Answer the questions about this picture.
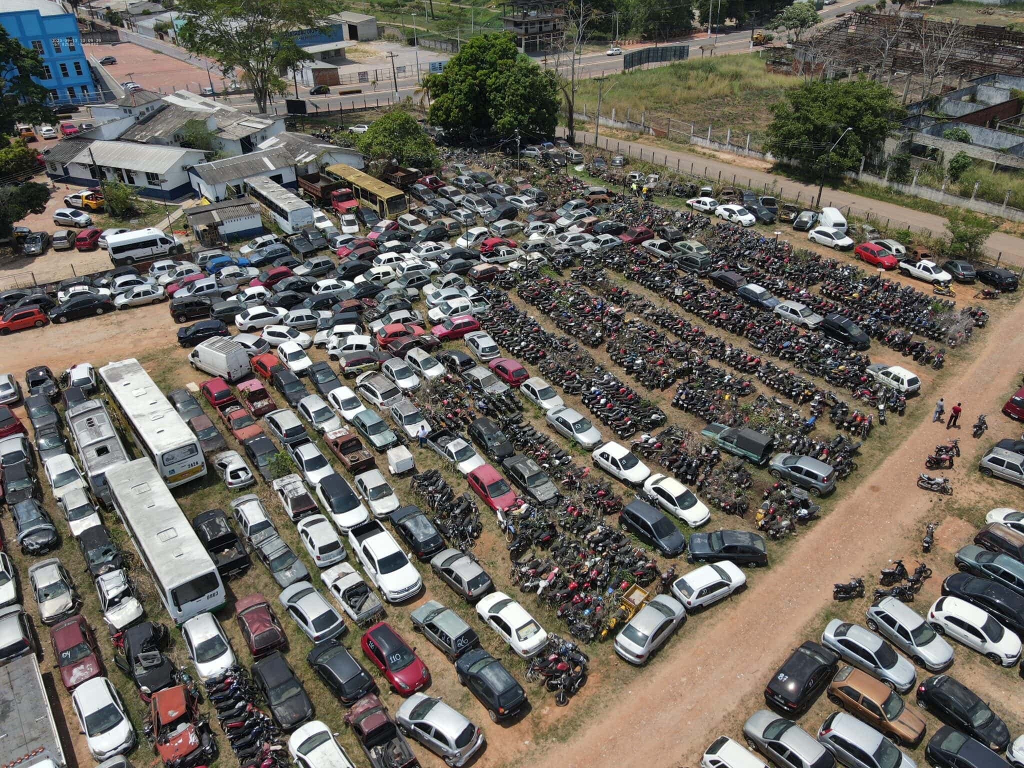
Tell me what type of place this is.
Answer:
parking lot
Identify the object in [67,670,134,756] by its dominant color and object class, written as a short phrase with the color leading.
white car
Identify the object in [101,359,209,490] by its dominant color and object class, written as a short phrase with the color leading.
white bus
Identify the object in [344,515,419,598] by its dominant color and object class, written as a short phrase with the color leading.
white truck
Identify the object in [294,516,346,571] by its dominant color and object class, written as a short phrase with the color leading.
white car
